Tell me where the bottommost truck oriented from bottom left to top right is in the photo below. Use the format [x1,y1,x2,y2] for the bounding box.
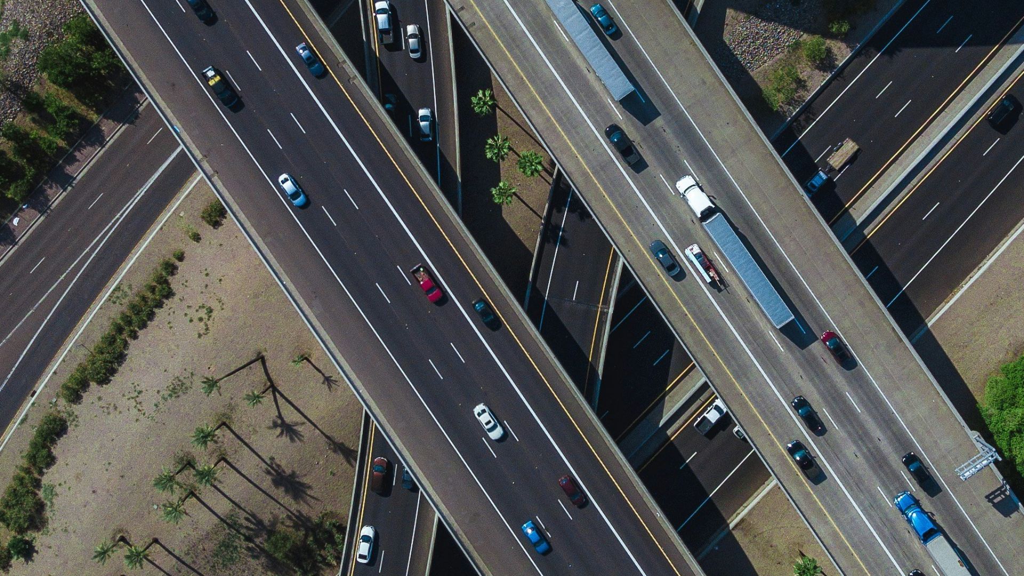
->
[691,399,726,436]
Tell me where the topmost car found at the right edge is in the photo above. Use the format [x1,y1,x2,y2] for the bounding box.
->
[980,95,1017,131]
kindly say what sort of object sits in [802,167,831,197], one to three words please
truck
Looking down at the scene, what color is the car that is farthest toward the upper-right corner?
black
